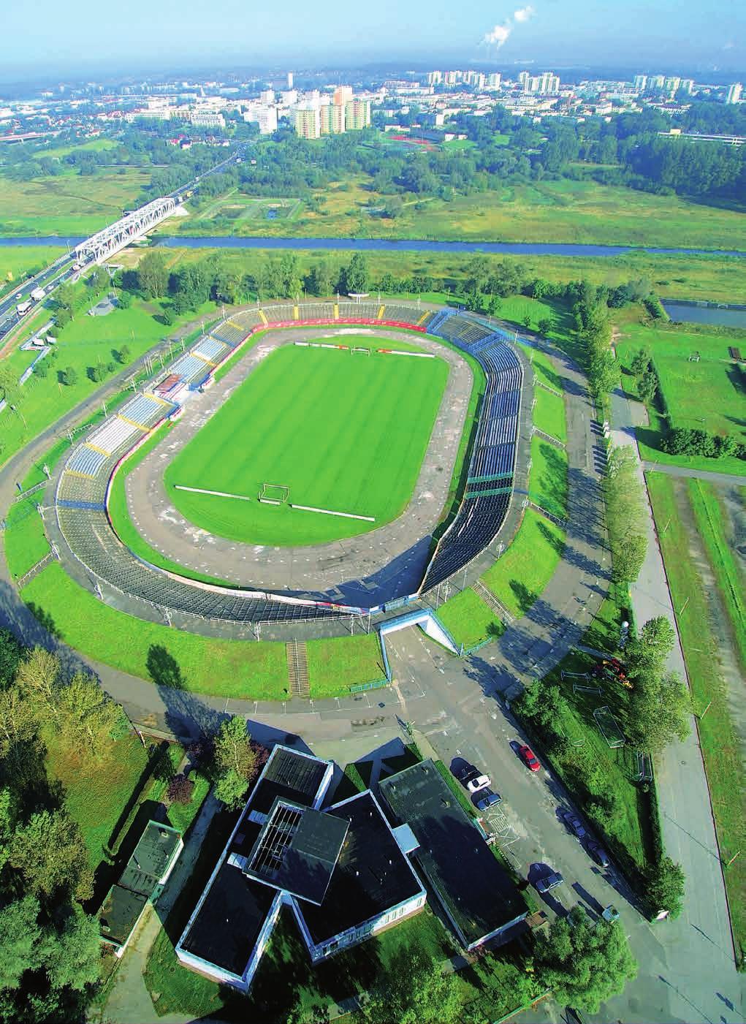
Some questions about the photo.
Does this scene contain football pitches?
Yes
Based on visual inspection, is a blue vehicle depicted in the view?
Yes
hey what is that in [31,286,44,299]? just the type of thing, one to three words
vehicle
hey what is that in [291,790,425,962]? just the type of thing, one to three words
building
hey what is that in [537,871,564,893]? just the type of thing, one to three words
car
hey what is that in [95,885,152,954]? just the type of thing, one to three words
shed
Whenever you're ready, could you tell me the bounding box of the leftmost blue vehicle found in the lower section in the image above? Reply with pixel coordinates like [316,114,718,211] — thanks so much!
[476,792,502,812]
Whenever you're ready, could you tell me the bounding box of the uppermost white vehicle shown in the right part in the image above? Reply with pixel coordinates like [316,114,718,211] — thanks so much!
[466,773,492,793]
